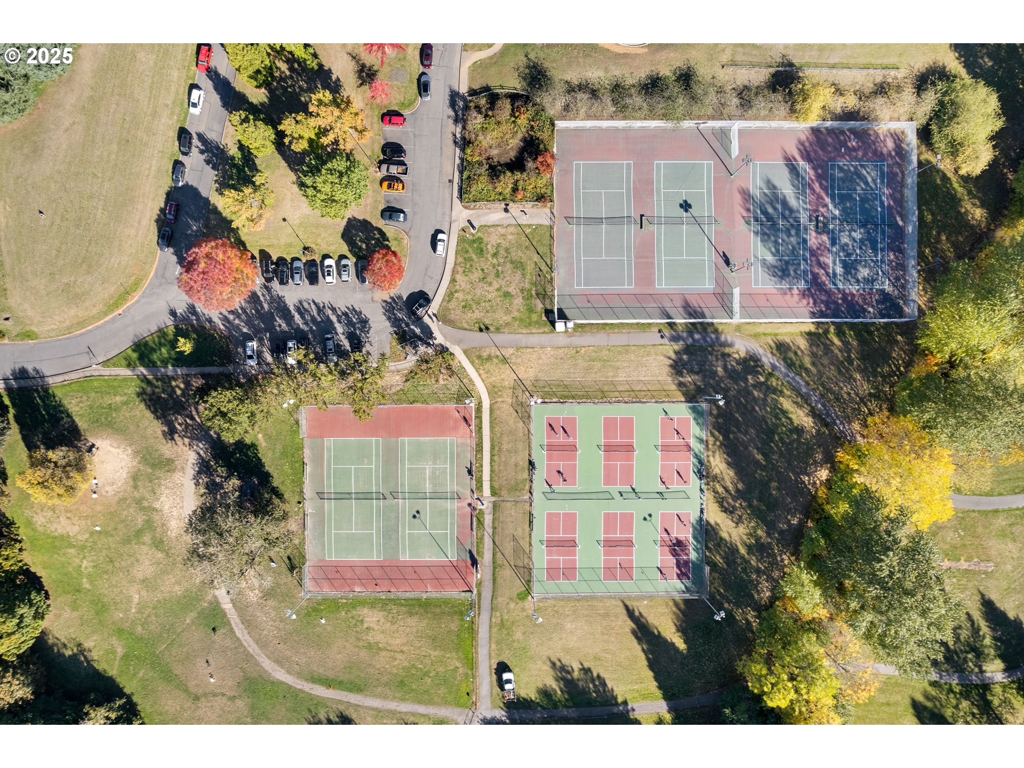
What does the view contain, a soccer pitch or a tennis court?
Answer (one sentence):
I can see a tennis court in this picture.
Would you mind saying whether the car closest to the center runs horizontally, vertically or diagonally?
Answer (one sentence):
What the image shows is the car closest to the center lying diagonally.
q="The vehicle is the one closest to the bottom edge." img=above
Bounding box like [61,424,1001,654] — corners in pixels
[502,670,515,704]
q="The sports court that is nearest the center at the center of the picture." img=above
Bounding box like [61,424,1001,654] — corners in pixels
[542,416,581,486]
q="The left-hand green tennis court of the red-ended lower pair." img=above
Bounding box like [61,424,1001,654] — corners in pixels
[325,438,382,560]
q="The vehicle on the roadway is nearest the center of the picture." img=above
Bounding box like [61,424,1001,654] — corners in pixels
[409,294,433,317]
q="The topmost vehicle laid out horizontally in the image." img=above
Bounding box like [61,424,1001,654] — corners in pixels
[382,115,408,127]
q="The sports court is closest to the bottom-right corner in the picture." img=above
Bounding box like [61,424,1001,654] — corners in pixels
[657,511,695,581]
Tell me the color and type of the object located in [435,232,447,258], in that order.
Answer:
white vehicle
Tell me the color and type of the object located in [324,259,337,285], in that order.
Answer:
white vehicle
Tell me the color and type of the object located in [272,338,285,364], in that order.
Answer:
black vehicle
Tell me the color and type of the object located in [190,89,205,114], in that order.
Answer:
white car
